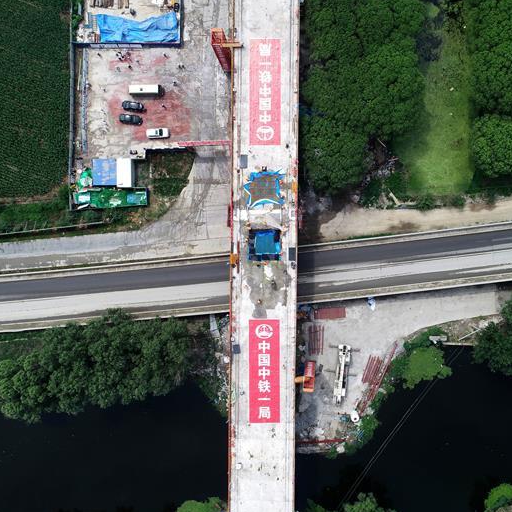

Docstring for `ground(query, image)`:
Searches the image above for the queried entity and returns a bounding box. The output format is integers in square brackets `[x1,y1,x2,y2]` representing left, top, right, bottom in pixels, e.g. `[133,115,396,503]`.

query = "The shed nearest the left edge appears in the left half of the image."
[92,159,117,188]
